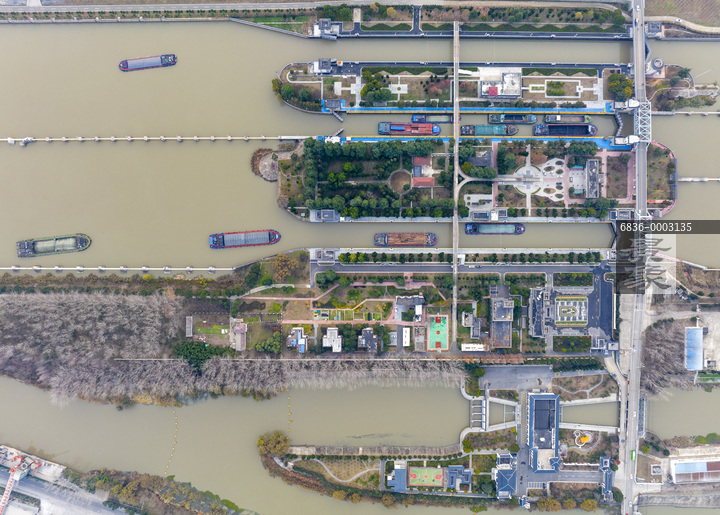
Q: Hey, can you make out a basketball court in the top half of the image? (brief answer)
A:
No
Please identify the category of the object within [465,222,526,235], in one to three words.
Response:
ship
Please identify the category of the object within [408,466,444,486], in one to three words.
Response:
basketball court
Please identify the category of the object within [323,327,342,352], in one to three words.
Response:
house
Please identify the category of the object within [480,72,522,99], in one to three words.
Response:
building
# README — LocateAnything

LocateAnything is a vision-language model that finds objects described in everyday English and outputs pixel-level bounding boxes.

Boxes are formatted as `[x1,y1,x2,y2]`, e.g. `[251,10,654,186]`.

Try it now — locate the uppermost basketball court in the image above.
[428,314,449,352]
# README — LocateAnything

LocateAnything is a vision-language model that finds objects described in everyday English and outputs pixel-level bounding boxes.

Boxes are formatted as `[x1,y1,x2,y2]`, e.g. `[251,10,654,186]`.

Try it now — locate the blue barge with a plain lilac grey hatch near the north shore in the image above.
[117,54,178,70]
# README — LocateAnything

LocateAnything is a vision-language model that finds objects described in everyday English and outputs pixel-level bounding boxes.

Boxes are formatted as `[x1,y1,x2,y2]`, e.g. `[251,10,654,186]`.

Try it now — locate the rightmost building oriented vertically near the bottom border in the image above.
[598,454,611,500]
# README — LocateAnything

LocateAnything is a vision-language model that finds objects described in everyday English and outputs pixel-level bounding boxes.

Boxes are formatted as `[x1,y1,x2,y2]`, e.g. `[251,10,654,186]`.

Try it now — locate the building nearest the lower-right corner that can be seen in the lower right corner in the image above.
[666,456,720,484]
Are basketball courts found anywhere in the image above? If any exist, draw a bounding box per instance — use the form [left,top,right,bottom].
[428,314,449,352]
[408,466,444,486]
